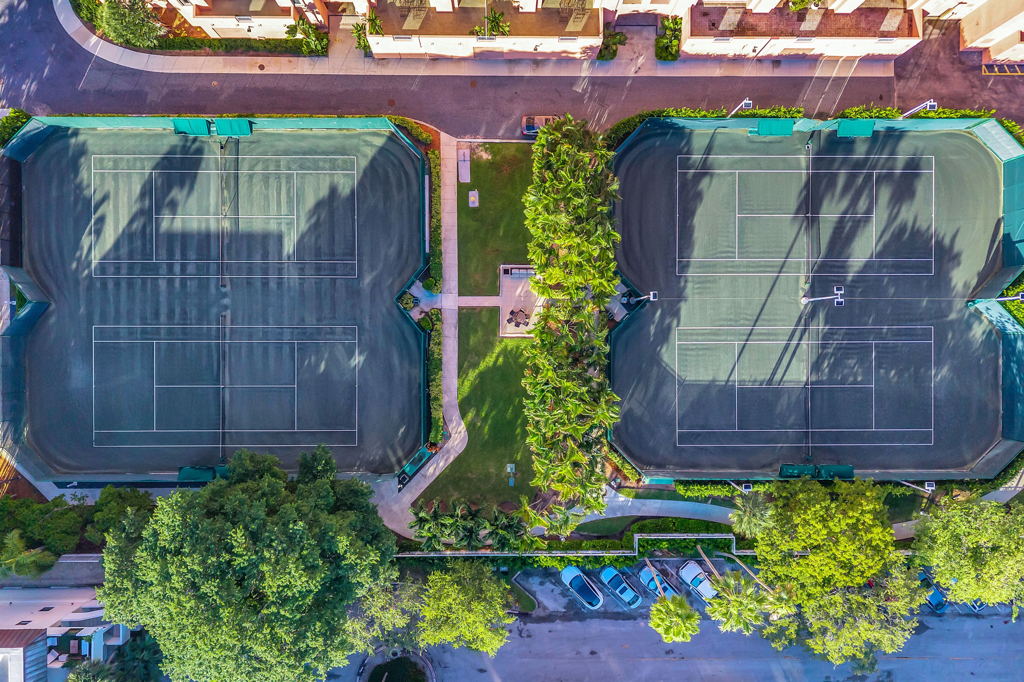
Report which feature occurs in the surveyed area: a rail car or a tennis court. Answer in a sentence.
Of the two, only a tennis court appears.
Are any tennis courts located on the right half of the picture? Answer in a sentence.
Yes, the scene does show a tennis court on the right half of the picture.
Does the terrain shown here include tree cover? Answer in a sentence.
Yes, tree cover can be seen from above here.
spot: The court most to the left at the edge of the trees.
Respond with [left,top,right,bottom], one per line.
[22,126,421,474]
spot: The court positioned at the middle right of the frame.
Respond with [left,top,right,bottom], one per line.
[611,129,1003,471]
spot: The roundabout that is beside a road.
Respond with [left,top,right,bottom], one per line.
[356,646,435,682]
